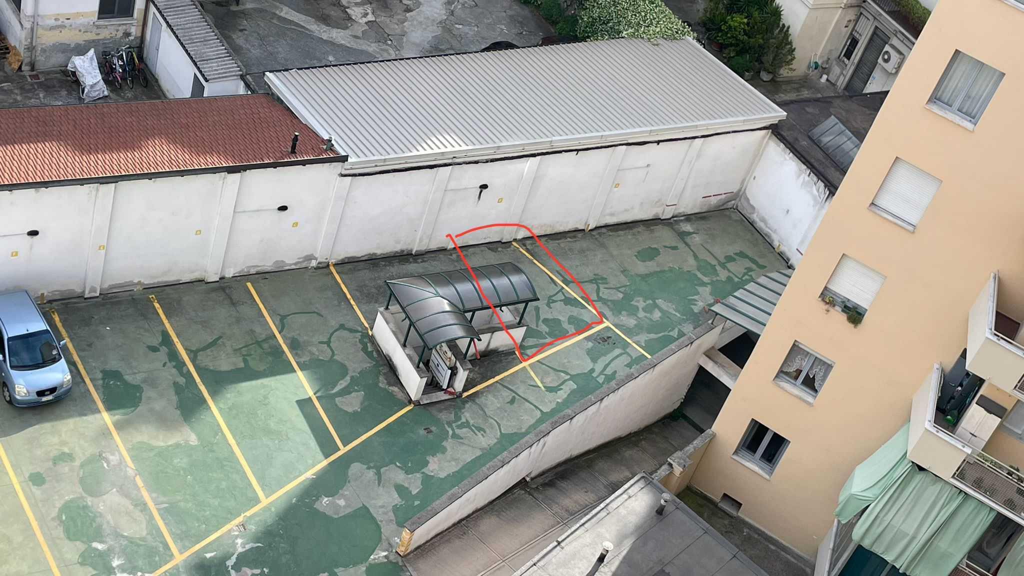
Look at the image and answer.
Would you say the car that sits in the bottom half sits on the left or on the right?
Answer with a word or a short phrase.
left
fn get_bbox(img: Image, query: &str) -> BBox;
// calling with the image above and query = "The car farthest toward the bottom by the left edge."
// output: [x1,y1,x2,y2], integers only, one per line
[0,294,70,406]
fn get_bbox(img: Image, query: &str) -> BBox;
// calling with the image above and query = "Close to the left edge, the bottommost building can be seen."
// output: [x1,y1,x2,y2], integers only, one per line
[0,91,349,196]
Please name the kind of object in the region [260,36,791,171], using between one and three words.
shed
